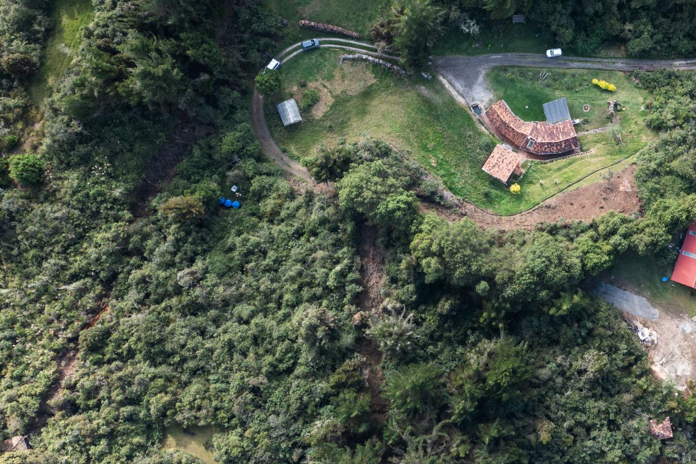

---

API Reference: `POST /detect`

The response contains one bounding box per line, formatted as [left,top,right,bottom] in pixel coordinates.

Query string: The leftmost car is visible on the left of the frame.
[264,57,280,72]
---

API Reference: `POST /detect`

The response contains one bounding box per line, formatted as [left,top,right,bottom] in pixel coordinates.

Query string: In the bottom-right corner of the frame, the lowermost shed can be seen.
[650,416,673,439]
